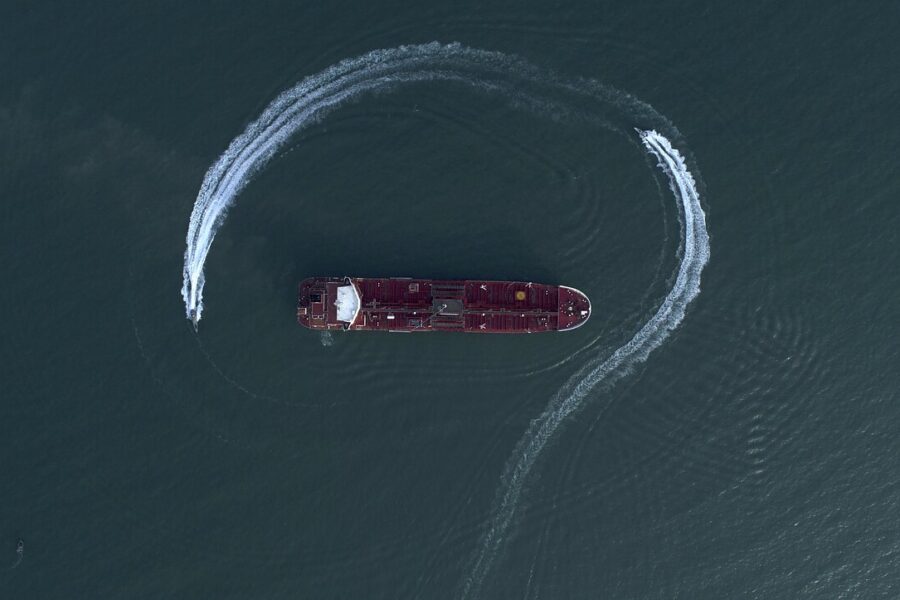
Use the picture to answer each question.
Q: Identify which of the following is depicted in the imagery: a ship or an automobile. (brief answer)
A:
ship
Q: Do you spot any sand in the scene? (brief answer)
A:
No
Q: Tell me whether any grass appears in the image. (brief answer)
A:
No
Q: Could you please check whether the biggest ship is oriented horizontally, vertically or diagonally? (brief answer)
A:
horizontally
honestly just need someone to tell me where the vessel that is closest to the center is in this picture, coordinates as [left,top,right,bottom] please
[298,277,592,334]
